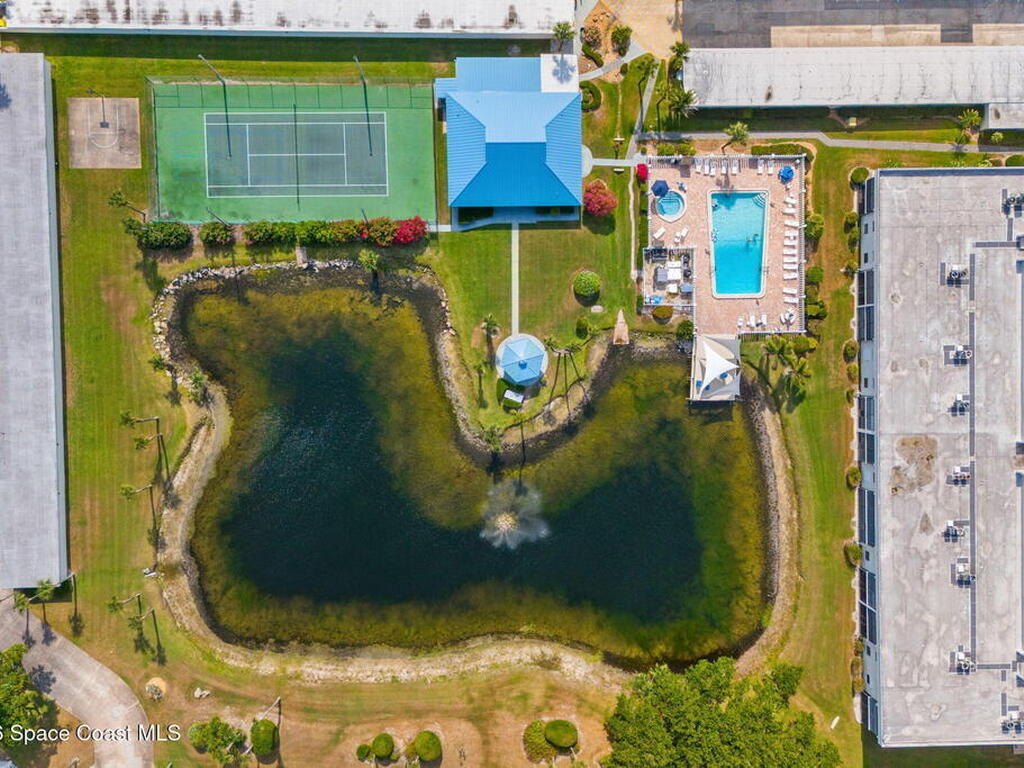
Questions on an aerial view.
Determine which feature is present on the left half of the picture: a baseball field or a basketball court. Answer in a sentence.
You can see a basketball court on the left half of the picture.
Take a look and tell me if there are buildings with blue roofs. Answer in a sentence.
Yes, there is a building with a blue roof in the image.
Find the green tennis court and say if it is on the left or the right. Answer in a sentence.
The green tennis court is on the left side of the image.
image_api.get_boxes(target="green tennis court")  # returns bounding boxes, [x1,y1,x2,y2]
[154,83,436,222]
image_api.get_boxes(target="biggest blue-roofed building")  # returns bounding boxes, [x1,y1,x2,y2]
[435,54,582,208]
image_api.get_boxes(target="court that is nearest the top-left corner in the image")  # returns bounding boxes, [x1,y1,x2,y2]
[68,97,141,168]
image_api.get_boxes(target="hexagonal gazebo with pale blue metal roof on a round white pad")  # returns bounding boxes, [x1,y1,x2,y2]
[497,335,548,387]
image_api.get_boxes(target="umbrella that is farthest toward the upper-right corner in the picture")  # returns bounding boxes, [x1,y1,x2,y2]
[779,167,793,181]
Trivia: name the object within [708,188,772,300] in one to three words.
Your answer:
swimming pool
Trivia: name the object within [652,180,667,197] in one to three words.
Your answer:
umbrella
